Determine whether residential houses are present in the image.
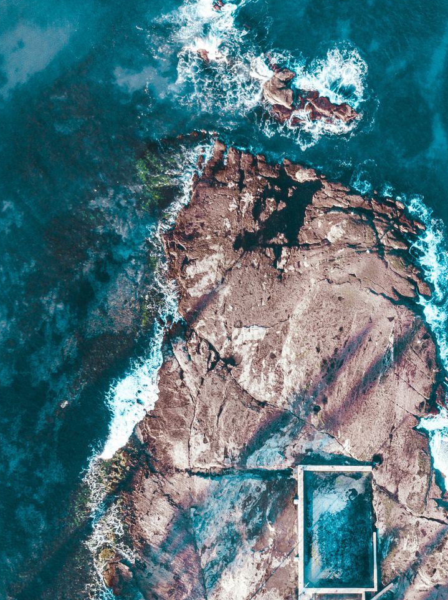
No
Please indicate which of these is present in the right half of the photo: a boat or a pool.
pool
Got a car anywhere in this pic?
No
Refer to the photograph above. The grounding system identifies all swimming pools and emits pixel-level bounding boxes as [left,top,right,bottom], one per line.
[308,593,365,600]
[294,466,377,599]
